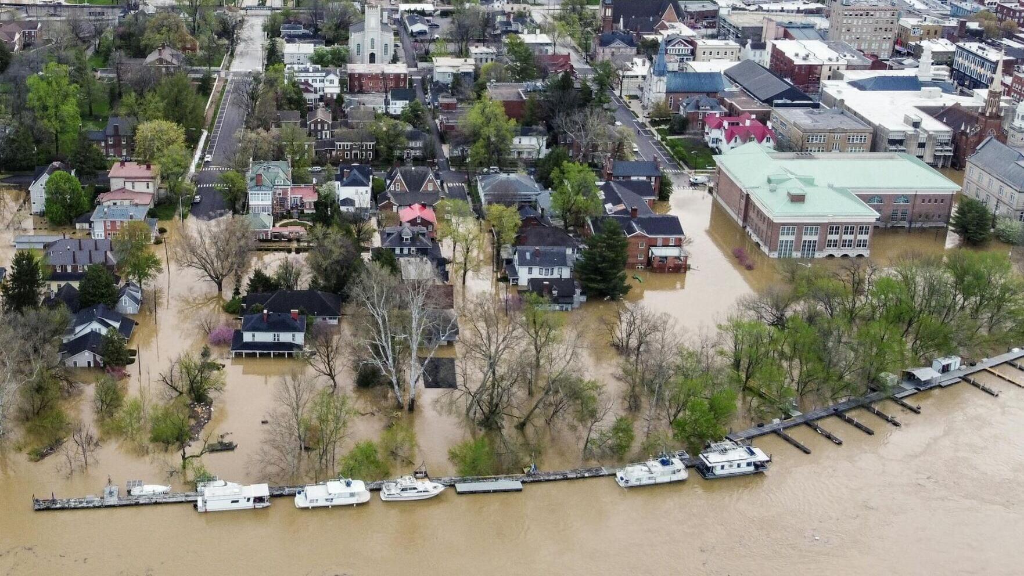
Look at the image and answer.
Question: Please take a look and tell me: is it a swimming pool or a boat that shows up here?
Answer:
boat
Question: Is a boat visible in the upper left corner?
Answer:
No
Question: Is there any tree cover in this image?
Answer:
Yes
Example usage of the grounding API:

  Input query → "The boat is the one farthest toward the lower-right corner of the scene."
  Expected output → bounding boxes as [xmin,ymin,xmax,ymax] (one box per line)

[693,439,773,478]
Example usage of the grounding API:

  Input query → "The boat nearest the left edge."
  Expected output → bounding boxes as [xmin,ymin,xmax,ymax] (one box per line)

[128,476,170,494]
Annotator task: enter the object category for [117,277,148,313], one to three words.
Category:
house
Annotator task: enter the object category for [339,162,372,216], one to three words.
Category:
house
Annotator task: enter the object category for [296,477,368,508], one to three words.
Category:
boat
